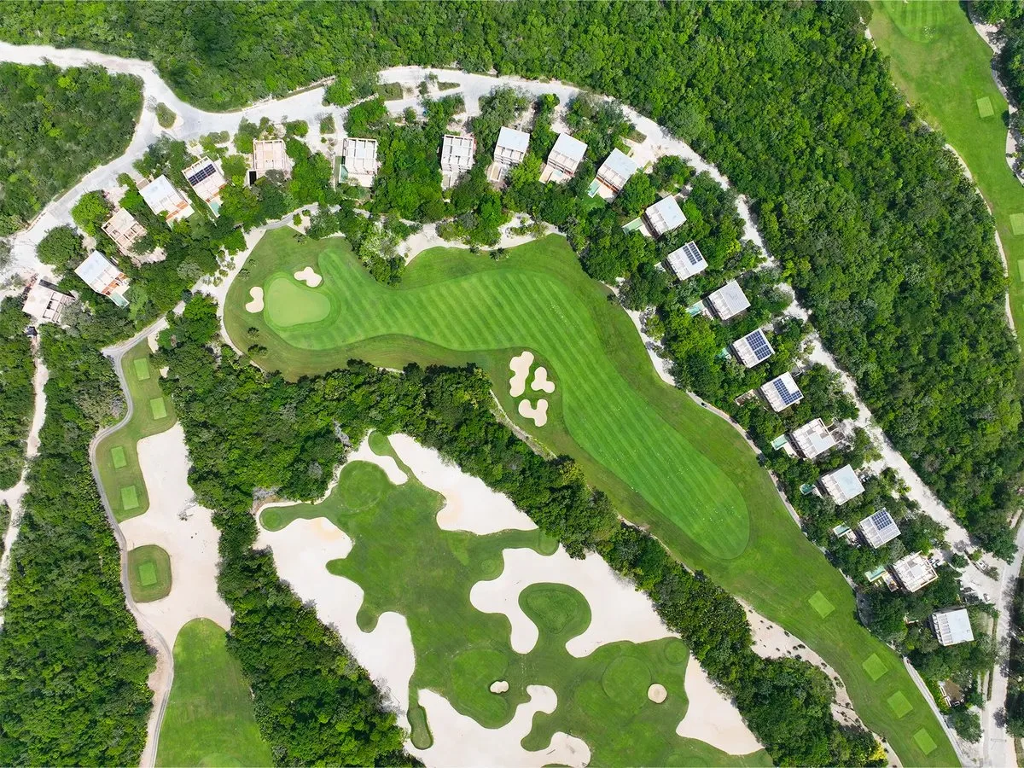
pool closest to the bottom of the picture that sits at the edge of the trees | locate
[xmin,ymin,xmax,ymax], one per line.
[865,564,887,582]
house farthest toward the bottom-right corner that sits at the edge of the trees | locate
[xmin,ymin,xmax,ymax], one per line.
[929,604,974,645]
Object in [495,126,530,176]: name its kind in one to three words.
house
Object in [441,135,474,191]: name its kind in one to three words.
house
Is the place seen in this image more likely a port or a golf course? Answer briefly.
golf course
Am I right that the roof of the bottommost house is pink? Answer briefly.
No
